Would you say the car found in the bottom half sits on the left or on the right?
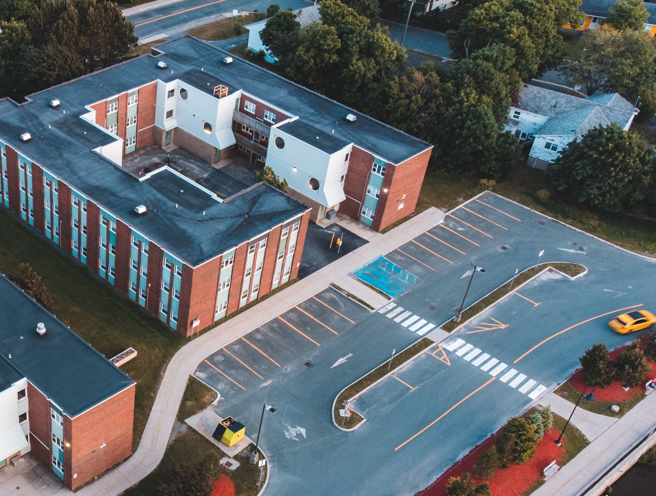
right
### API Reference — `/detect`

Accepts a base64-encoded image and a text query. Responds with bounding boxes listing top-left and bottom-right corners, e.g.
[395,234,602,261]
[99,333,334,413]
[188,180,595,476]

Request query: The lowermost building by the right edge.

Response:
[509,82,634,171]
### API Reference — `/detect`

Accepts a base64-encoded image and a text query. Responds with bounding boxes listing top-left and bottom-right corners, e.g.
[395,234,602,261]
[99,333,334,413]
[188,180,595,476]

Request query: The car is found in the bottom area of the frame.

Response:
[609,312,656,337]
